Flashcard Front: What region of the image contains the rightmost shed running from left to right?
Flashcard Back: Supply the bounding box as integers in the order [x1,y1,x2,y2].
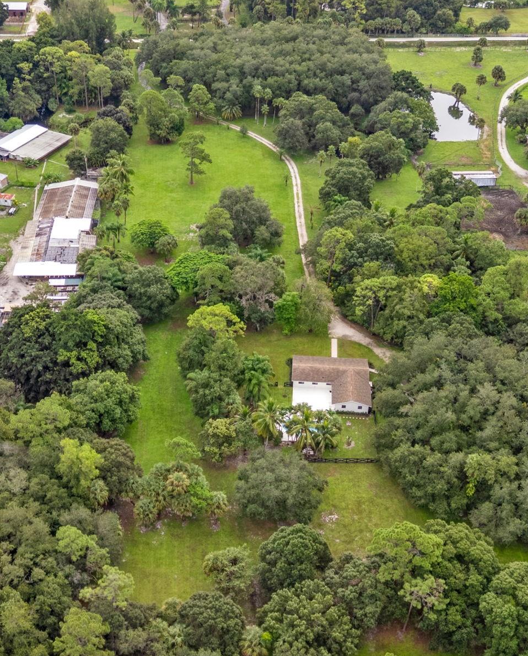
[449,170,496,189]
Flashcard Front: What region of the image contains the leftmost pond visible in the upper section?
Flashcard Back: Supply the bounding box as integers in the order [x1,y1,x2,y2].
[425,92,482,141]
